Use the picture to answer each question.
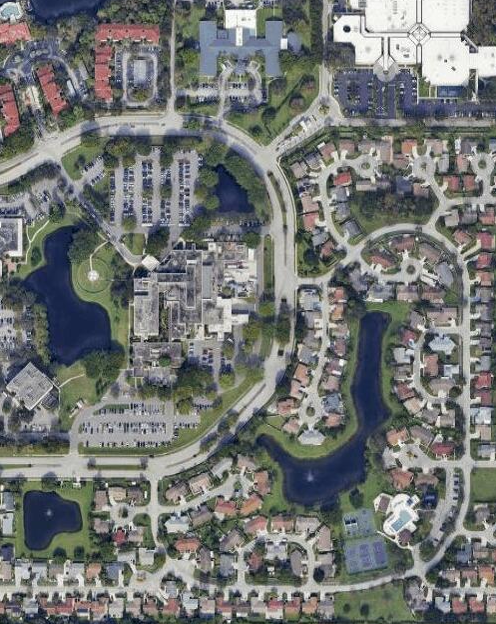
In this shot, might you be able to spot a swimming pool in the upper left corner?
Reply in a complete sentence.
Yes, there is a swimming pool in the upper left corner.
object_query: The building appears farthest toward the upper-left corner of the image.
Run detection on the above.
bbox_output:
[0,22,29,43]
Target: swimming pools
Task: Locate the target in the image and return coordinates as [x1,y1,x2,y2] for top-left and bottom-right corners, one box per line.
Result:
[375,494,420,536]
[0,2,21,21]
